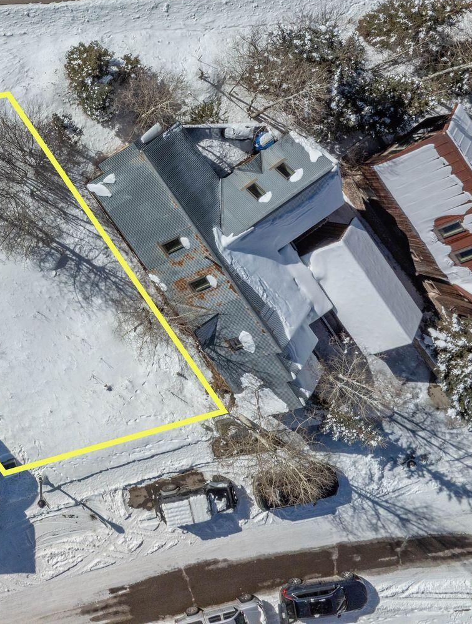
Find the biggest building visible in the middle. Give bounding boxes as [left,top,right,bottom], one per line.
[86,120,345,417]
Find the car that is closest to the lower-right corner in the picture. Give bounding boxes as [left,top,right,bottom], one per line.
[279,570,373,624]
